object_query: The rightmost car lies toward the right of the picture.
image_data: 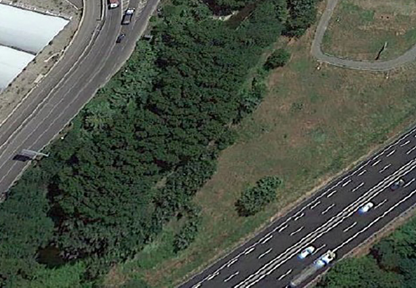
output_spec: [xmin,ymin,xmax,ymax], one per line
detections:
[391,179,406,191]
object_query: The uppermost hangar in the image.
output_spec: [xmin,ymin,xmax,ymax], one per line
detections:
[0,3,72,61]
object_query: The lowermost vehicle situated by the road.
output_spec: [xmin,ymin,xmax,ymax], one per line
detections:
[287,265,318,288]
